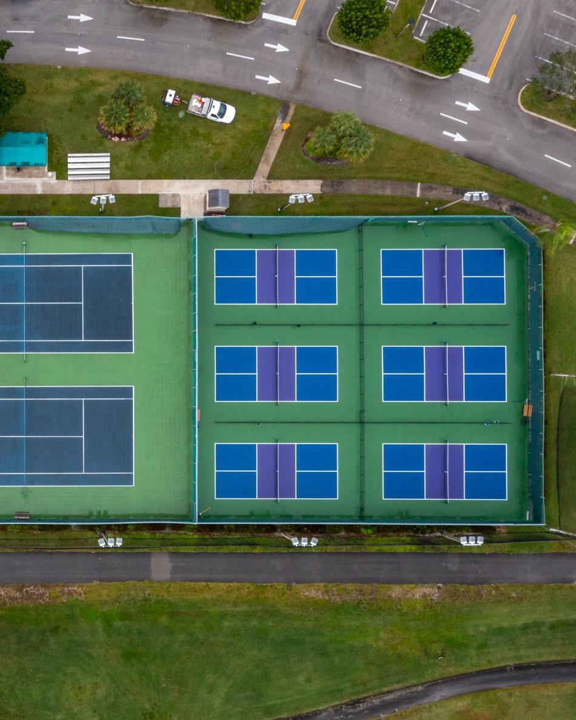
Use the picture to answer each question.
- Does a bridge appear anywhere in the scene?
No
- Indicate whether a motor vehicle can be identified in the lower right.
No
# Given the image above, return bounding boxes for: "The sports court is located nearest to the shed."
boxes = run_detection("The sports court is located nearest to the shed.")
[215,249,338,305]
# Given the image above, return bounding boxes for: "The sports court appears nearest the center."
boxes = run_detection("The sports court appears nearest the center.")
[215,346,338,401]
